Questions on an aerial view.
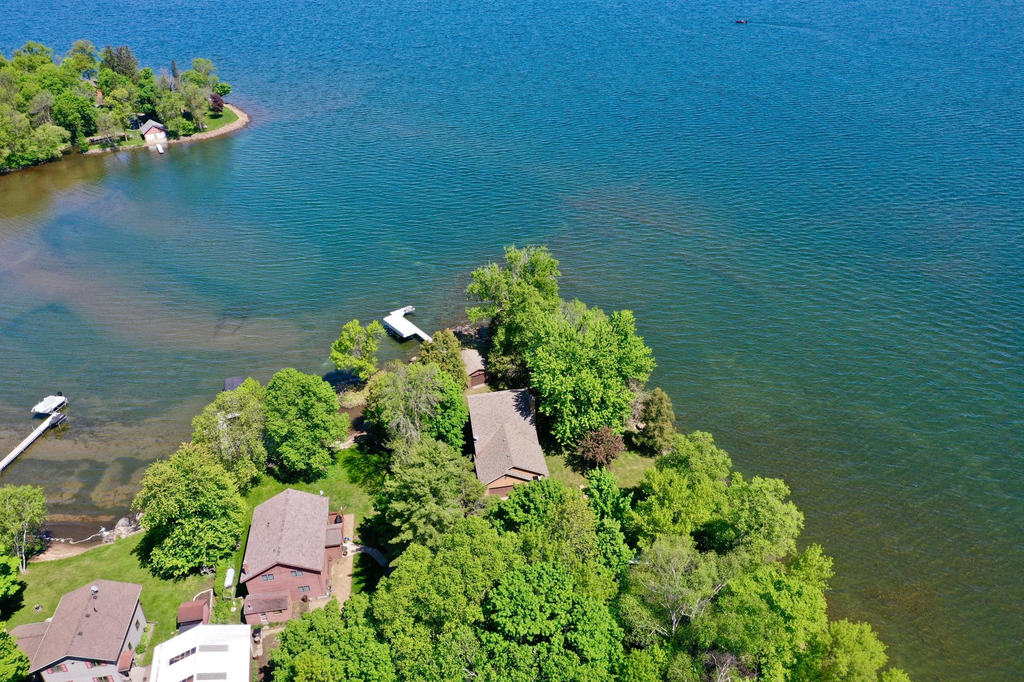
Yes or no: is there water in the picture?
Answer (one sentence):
Yes, water shows up in the scene.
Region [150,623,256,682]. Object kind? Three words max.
barn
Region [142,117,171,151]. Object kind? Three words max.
building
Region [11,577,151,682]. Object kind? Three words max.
house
